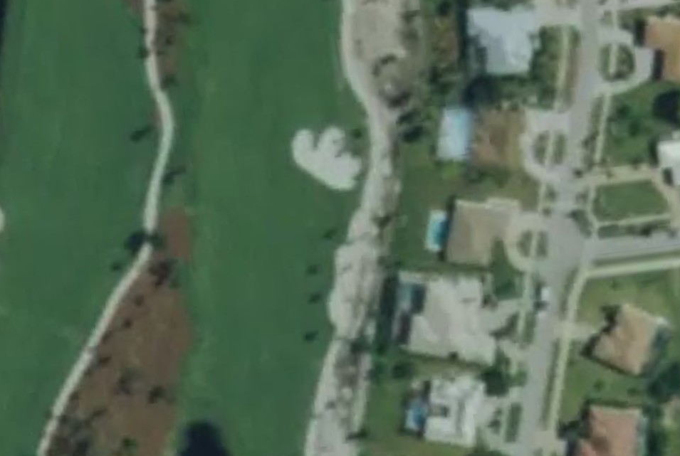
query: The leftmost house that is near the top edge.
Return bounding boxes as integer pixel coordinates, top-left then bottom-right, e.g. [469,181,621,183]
[466,6,533,73]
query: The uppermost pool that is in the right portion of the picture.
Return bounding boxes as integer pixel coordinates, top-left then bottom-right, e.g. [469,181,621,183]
[438,108,471,159]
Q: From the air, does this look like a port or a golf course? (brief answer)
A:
golf course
